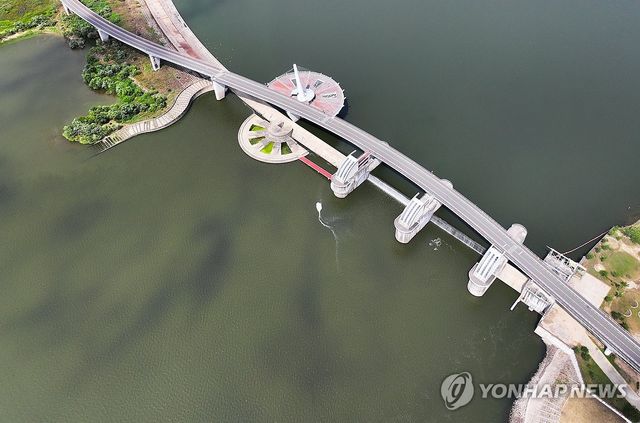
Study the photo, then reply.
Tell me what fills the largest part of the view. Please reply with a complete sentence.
The largest share of the image is taken up by water.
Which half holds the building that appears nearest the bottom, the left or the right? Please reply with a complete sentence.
You can find the building that appears nearest the bottom on the right side of the picture.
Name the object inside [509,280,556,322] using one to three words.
building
